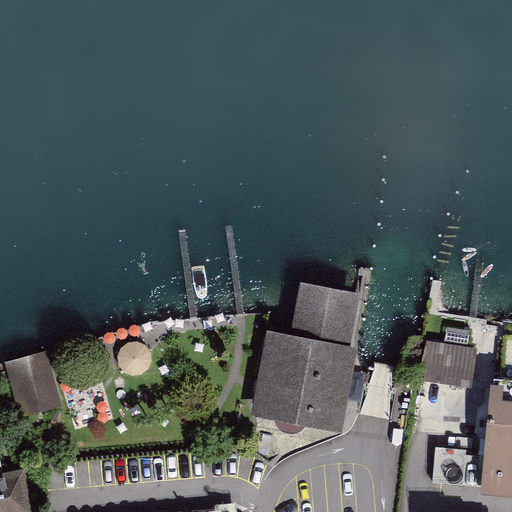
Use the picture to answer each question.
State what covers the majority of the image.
water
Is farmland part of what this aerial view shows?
No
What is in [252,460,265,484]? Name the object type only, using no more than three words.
vehicle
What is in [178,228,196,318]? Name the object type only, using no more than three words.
pier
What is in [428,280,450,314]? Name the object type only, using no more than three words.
pier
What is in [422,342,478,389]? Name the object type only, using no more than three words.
building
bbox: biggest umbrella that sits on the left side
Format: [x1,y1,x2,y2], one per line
[118,342,152,376]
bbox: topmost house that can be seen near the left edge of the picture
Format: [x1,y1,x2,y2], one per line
[5,350,62,414]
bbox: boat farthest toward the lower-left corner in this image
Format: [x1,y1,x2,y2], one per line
[192,265,206,298]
